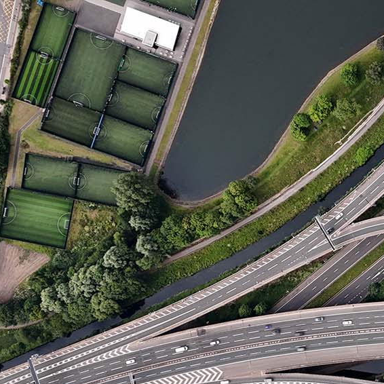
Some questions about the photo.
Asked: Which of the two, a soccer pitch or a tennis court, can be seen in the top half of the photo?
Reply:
soccer pitch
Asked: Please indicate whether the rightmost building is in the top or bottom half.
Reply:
top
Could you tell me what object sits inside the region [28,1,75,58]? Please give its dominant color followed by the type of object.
green soccer field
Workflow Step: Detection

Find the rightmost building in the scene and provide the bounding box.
[121,6,182,52]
